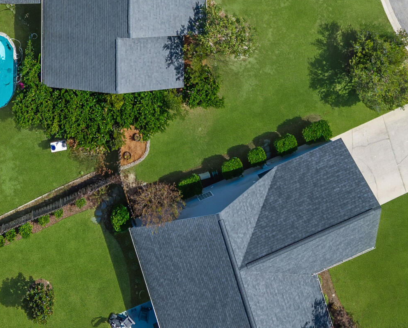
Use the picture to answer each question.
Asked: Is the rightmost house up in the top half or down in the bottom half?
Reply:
bottom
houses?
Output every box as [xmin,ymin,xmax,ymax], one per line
[128,140,381,328]
[0,0,209,95]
